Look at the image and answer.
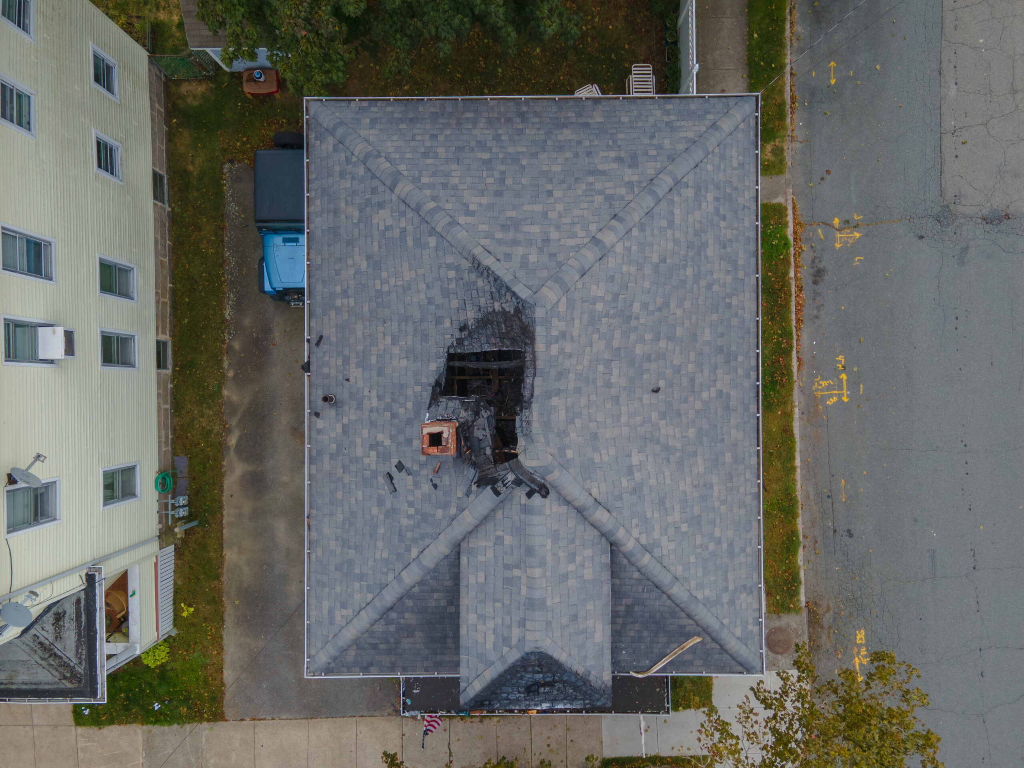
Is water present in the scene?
No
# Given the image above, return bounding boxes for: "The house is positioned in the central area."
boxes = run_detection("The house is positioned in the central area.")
[304,95,762,715]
